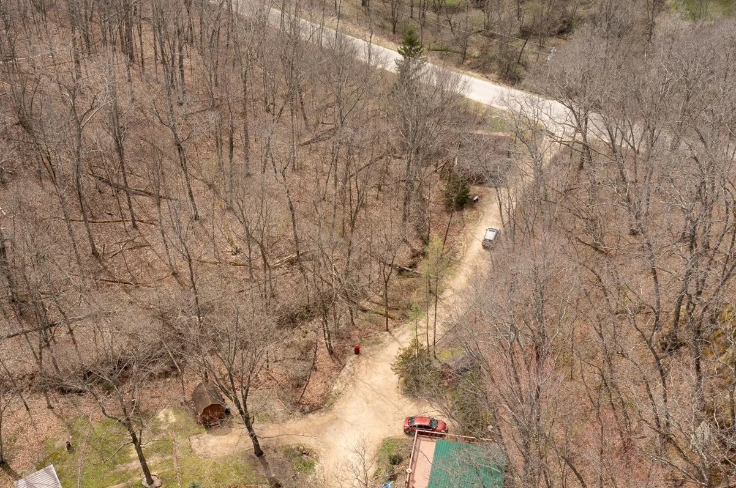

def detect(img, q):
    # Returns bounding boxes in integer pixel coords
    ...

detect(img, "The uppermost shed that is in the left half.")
[199,373,234,429]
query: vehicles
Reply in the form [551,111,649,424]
[403,413,449,434]
[480,228,500,251]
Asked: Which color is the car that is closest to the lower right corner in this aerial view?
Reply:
red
